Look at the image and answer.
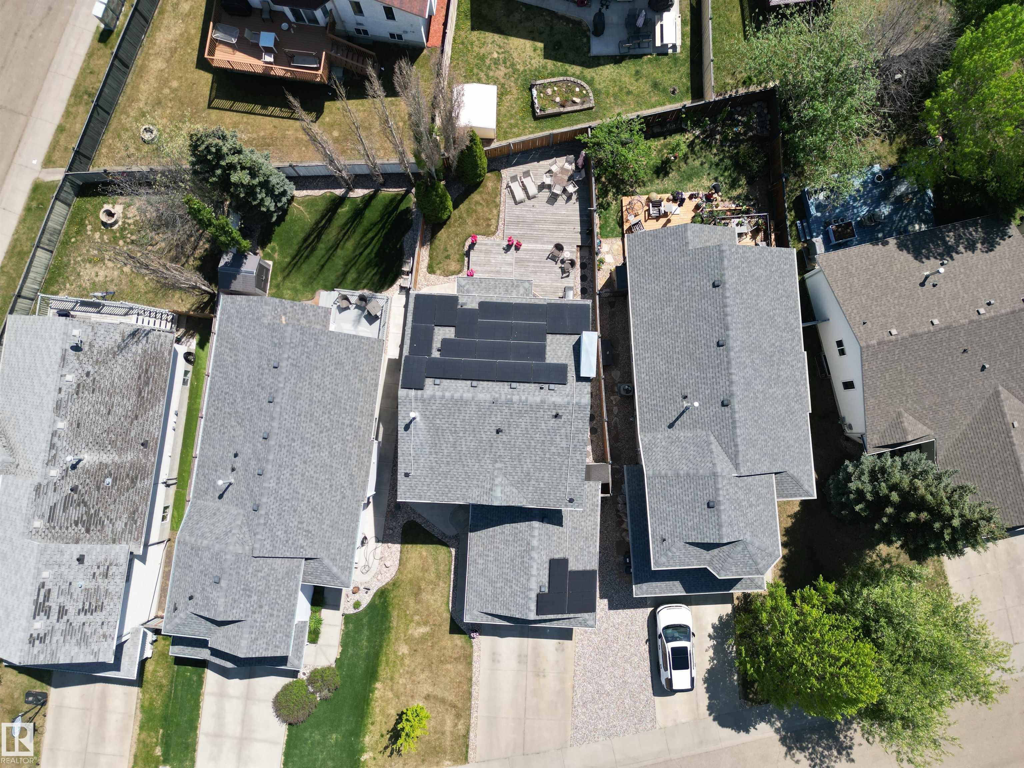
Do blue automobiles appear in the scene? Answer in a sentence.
No, no blue automobile is visible in the view.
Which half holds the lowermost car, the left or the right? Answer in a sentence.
The lowermost car appears in the right half of the scene.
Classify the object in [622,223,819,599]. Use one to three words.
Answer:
house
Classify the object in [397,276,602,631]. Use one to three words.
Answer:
house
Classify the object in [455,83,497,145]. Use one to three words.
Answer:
shed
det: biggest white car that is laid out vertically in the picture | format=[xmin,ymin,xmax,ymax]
[654,604,697,693]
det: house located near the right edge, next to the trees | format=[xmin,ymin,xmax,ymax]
[802,210,1024,545]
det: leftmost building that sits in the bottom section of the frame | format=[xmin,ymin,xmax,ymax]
[0,313,192,680]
